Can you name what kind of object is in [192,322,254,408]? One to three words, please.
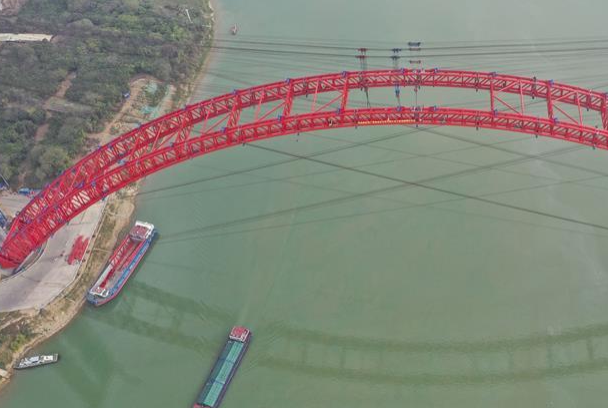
ship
